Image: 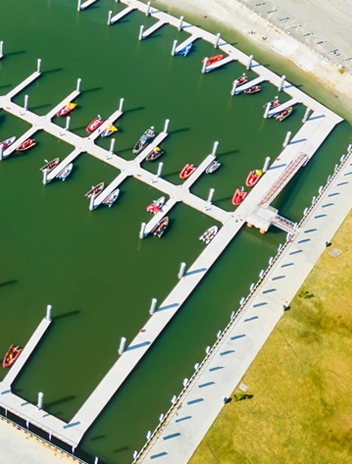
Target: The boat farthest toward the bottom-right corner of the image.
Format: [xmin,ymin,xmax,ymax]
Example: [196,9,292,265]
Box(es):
[197,225,219,244]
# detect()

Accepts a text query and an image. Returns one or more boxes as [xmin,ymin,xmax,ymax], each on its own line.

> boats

[85,114,106,132]
[101,122,119,136]
[146,146,165,161]
[233,186,249,204]
[273,107,293,122]
[3,345,22,367]
[143,195,165,215]
[38,158,59,173]
[245,168,265,187]
[176,41,194,56]
[16,139,35,152]
[135,123,159,150]
[233,73,250,86]
[205,158,223,173]
[180,162,197,178]
[100,188,119,209]
[83,183,105,199]
[0,137,16,148]
[152,216,171,238]
[55,162,72,182]
[197,225,219,244]
[262,101,281,109]
[57,100,78,116]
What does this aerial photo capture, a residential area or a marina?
marina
